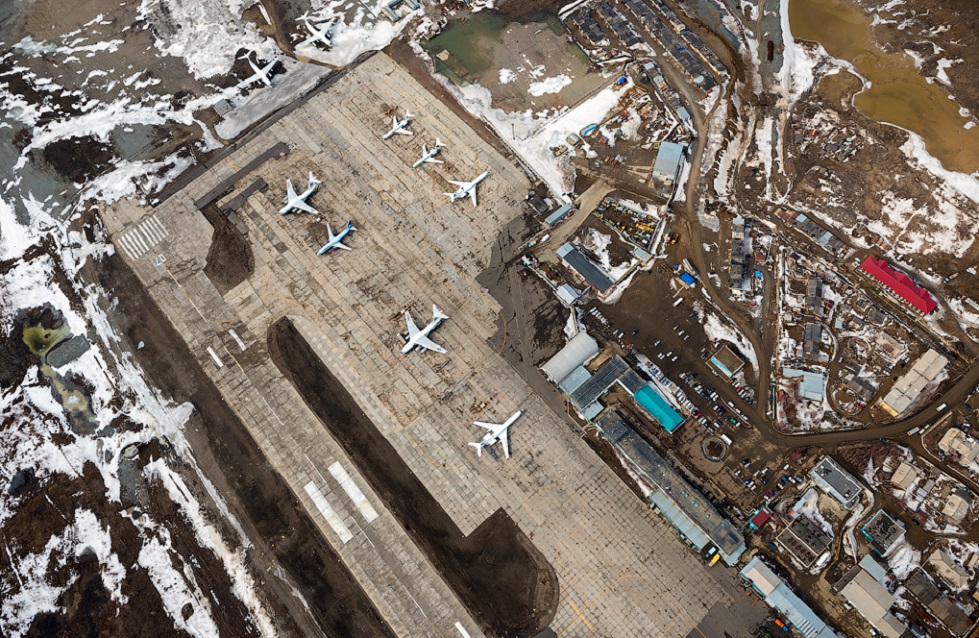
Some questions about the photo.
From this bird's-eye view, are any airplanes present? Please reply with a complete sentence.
Yes, looking at the shot, I can spot an airplane.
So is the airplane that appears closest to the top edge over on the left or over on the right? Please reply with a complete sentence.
You can find the airplane that appears closest to the top edge on the left side of the picture.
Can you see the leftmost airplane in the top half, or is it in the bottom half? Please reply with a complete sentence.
The top half of the photo is where the leftmost airplane is.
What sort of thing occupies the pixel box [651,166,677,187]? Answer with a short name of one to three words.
building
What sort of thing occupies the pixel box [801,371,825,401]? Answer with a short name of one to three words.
house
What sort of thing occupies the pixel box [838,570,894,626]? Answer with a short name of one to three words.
barn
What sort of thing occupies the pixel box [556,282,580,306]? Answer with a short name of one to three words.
shed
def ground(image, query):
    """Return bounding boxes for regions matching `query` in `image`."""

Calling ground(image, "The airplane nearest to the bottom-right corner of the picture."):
[468,409,524,458]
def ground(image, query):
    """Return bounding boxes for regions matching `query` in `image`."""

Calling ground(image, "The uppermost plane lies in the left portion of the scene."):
[295,12,337,45]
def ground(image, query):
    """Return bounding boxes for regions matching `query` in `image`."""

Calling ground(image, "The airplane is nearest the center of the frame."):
[402,300,453,353]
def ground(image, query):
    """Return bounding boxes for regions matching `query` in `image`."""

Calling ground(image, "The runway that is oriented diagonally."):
[112,204,485,638]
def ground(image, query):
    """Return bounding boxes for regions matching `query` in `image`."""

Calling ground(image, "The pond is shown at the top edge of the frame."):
[420,8,512,87]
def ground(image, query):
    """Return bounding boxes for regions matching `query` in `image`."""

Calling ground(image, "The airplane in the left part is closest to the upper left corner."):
[236,52,280,86]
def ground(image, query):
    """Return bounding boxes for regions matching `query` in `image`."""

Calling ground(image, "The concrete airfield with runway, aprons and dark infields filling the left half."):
[100,50,789,638]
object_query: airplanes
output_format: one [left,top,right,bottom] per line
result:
[468,409,524,458]
[413,137,450,167]
[236,52,280,86]
[317,223,359,255]
[295,12,337,45]
[383,108,418,139]
[402,300,453,353]
[279,172,329,217]
[443,171,490,207]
